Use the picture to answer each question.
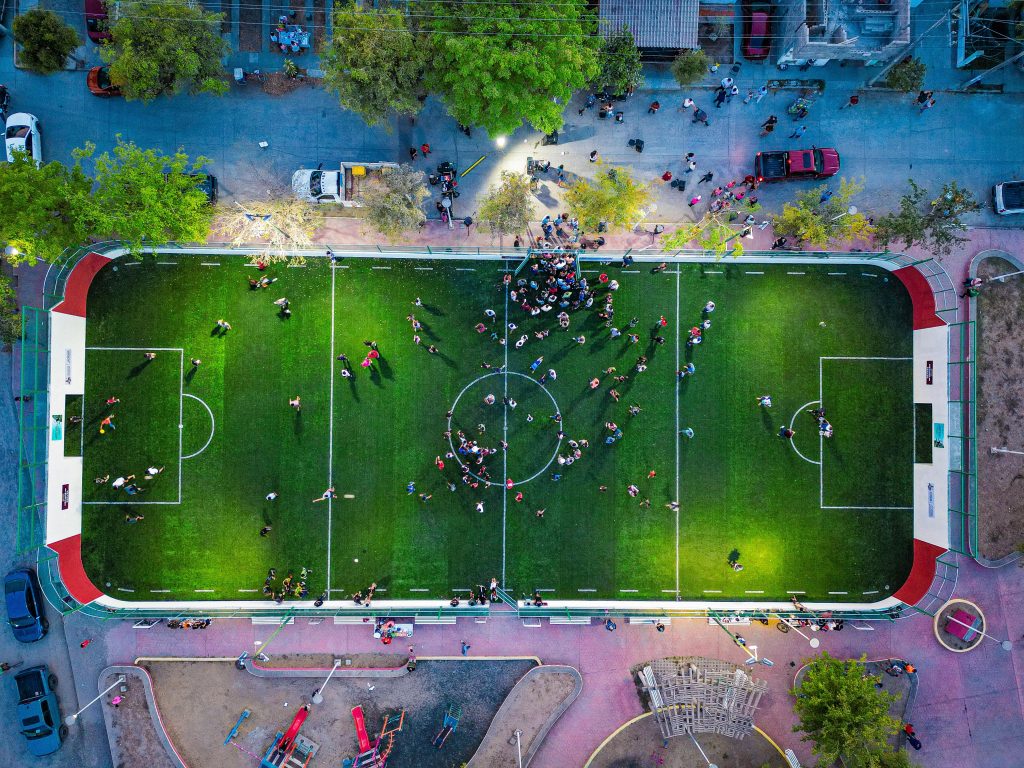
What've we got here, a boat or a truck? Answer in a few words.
truck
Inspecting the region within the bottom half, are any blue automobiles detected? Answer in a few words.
Yes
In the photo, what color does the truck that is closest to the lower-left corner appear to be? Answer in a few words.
blue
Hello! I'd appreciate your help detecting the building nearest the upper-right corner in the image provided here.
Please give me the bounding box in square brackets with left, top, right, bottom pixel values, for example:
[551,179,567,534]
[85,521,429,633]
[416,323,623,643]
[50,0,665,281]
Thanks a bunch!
[777,0,916,68]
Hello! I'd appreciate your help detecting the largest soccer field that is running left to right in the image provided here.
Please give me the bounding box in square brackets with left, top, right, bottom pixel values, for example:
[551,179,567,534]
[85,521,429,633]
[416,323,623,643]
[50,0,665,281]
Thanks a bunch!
[68,254,930,603]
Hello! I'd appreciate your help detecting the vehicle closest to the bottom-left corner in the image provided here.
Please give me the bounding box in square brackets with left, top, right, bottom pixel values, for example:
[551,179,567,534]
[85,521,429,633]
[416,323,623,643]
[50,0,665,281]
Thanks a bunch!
[18,658,72,756]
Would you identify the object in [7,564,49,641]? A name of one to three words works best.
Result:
car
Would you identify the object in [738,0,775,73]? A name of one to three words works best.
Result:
truck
